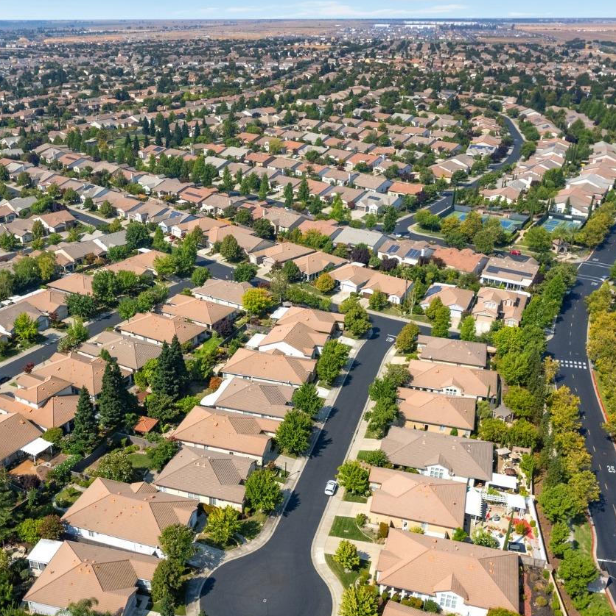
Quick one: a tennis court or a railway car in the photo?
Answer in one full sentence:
The one in the frame is a tennis court.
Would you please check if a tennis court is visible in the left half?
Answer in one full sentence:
No, no tennis court appears in the left half.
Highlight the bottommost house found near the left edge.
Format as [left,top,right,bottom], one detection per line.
[6,542,159,616]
